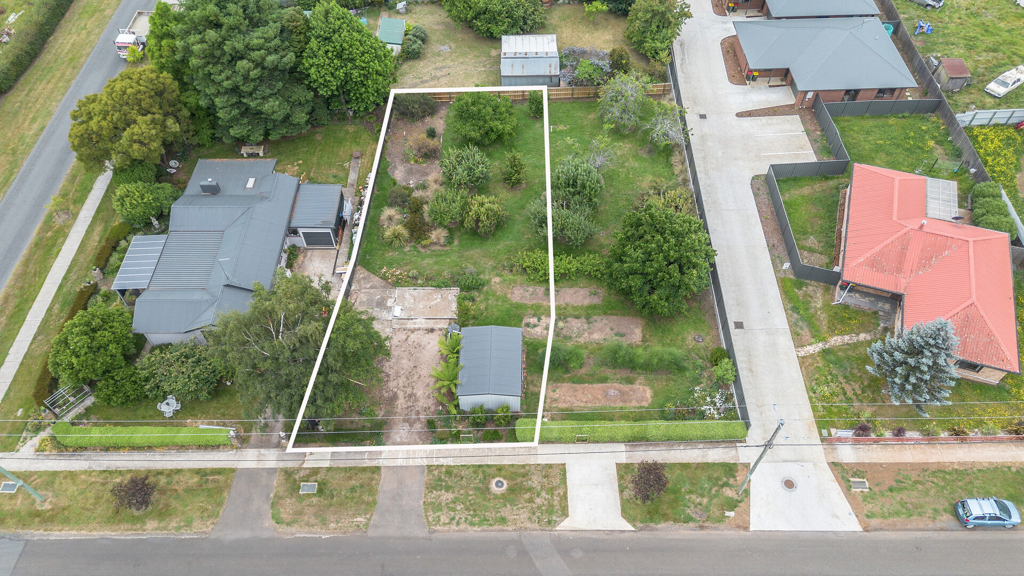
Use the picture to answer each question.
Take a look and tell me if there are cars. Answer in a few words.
Yes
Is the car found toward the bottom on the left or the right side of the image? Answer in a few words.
right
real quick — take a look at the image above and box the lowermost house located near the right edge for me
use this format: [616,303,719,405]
[832,162,1022,384]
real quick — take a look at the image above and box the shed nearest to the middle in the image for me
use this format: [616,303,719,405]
[457,325,523,411]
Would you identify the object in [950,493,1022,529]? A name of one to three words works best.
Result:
car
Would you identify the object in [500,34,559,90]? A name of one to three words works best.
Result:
shed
